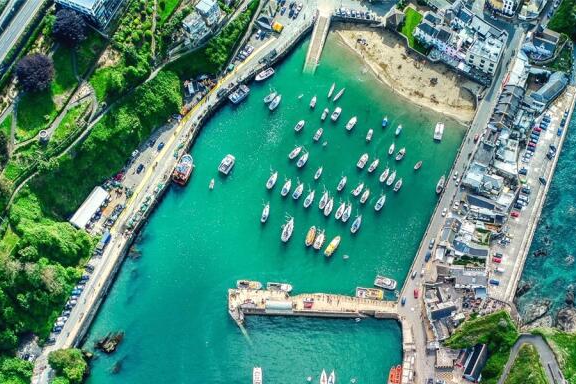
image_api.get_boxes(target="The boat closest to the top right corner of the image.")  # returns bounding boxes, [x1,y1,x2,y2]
[433,121,445,141]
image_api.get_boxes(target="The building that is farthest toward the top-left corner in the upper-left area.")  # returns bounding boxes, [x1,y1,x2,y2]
[56,0,122,34]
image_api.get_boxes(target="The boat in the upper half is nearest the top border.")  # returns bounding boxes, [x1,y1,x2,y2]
[257,68,277,83]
